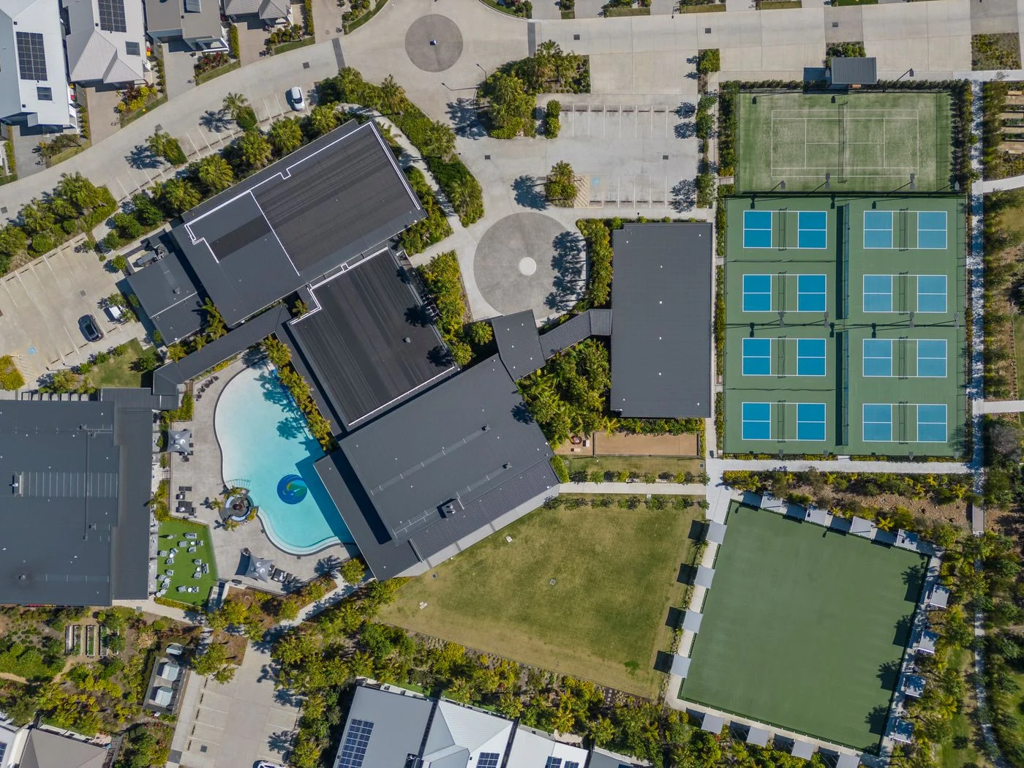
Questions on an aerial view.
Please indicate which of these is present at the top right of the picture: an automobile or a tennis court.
tennis court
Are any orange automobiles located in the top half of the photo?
No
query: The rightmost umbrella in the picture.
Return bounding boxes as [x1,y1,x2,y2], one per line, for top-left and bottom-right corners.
[244,549,276,582]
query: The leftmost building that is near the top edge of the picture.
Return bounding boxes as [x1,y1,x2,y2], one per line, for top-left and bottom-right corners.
[0,0,78,128]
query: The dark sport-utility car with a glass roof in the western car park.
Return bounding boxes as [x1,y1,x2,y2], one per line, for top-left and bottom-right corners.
[77,312,102,343]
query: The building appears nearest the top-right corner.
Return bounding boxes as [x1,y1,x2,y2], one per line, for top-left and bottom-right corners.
[825,57,877,90]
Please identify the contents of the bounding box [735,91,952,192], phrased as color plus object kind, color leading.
green tennis court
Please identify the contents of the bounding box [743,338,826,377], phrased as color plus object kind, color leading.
blue sports court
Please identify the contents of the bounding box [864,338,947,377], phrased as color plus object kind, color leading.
blue sports court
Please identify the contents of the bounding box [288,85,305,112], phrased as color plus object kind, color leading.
white car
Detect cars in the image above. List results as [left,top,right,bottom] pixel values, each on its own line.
[256,759,285,768]
[288,85,305,112]
[77,312,102,343]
